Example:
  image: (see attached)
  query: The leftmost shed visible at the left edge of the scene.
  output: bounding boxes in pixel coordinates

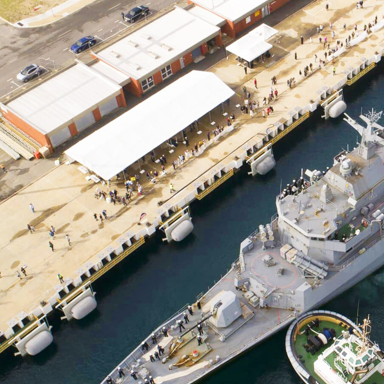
[0,57,128,154]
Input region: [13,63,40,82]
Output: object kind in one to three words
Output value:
car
